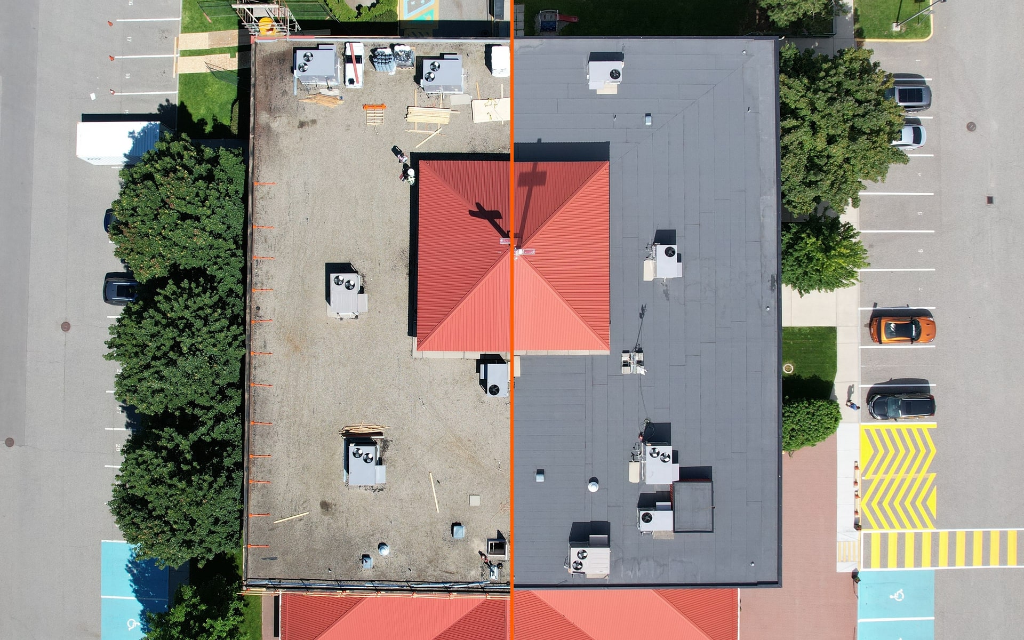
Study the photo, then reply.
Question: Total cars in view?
6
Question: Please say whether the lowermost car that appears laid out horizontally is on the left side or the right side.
right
